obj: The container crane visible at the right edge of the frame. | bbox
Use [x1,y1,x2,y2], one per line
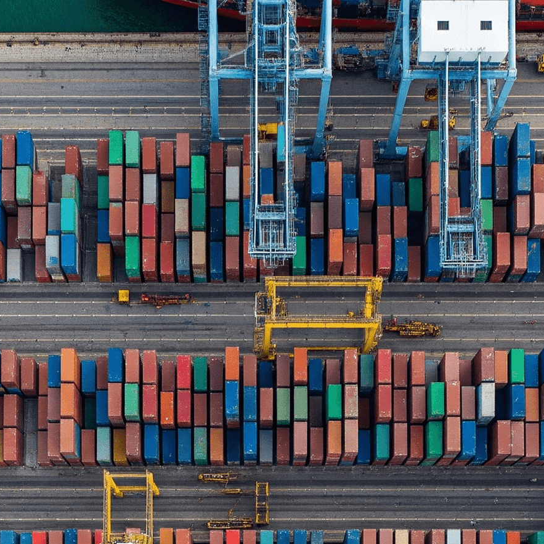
[365,0,521,281]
